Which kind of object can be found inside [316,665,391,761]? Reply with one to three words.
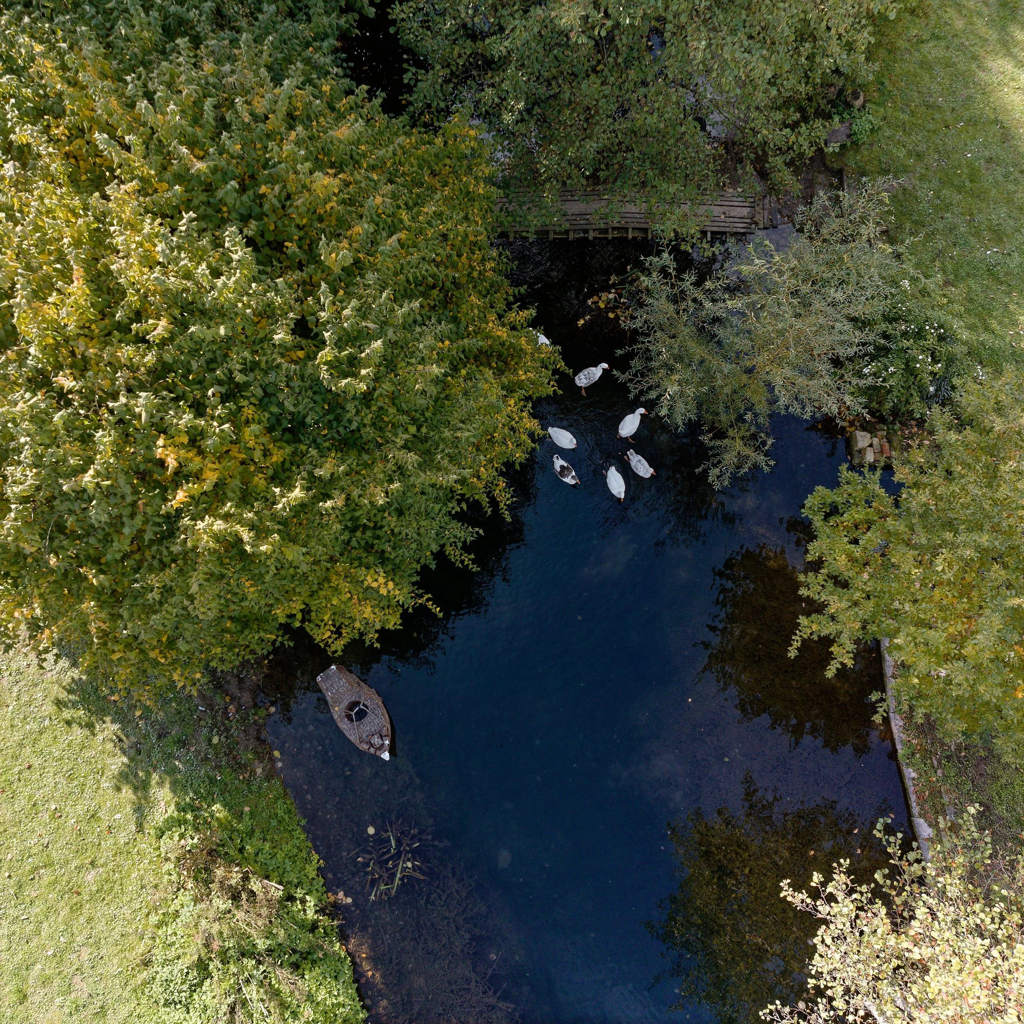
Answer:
boat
